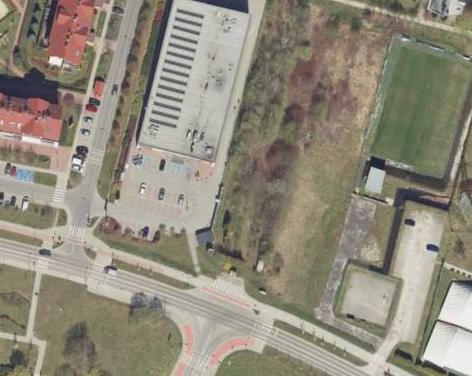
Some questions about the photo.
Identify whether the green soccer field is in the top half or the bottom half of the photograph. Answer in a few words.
top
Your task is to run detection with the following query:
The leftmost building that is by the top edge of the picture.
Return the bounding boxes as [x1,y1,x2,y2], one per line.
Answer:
[46,0,99,73]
